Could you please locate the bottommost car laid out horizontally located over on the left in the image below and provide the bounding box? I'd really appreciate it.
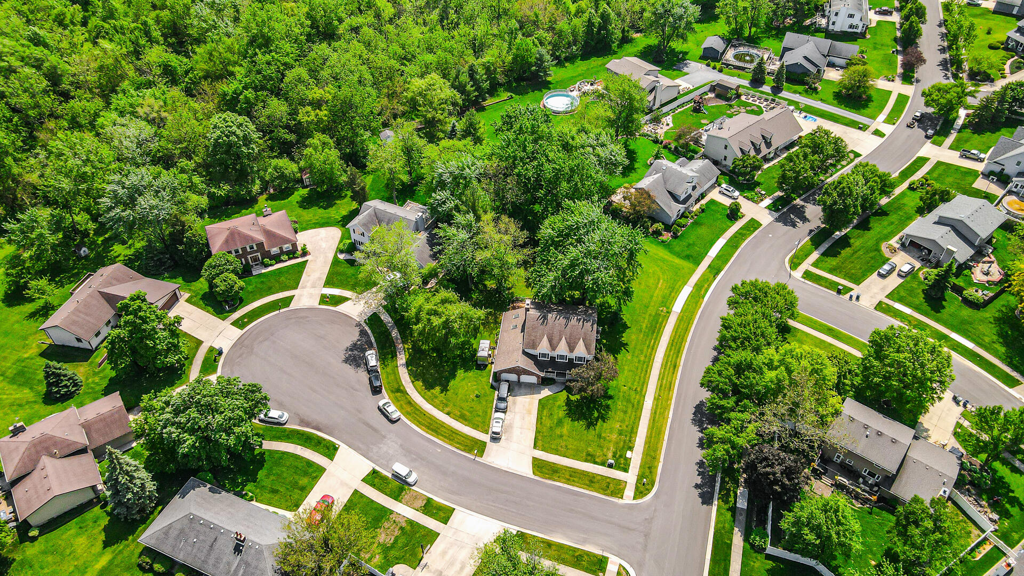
[259,410,290,425]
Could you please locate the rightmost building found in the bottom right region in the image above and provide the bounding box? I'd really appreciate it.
[817,395,960,518]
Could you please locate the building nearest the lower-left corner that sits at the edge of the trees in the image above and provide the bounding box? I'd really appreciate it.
[0,390,136,522]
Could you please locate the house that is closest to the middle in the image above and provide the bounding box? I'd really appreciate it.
[494,297,603,384]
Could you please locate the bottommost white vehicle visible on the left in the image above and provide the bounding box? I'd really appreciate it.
[391,461,418,484]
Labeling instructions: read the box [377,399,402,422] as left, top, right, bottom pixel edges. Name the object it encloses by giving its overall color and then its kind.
white car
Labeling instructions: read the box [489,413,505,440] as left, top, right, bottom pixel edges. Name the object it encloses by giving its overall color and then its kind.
white car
